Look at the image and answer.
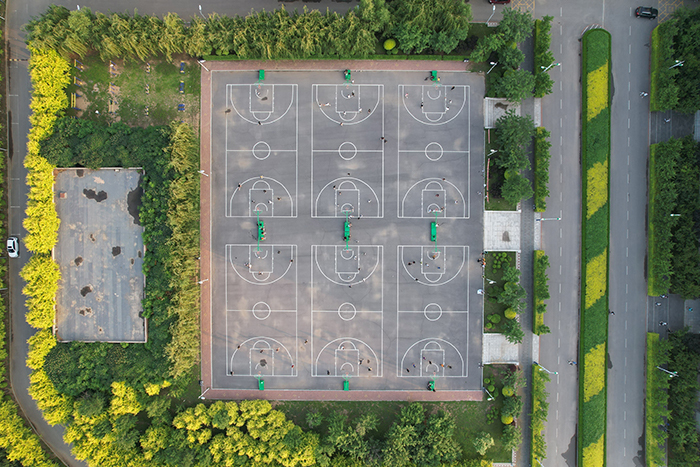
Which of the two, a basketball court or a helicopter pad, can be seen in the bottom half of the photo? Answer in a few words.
basketball court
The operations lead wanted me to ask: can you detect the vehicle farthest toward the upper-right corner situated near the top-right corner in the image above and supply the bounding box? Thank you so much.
[634,8,656,20]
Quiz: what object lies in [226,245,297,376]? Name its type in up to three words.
basketball court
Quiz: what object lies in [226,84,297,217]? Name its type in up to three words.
basketball court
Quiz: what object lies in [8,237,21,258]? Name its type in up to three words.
vehicle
